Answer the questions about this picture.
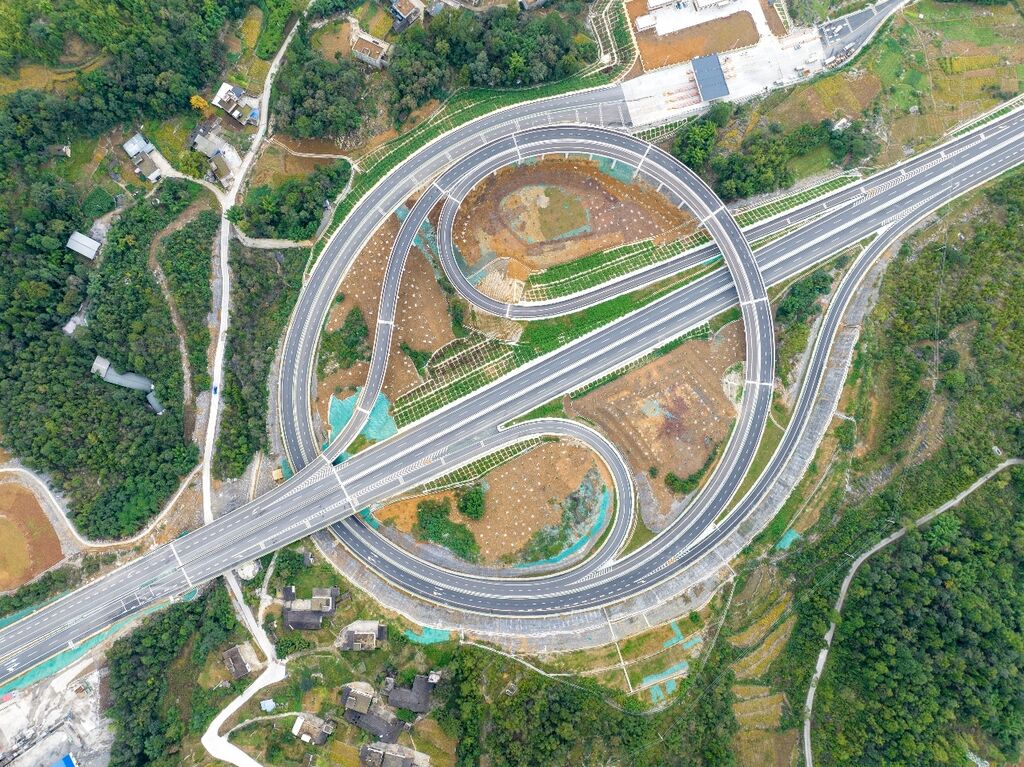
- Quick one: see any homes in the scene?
Yes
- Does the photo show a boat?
No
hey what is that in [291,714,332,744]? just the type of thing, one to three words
house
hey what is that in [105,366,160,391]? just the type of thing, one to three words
building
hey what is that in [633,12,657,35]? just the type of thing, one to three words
building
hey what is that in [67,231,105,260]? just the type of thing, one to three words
shed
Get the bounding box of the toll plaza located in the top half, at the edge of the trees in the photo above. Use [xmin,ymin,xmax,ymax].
[624,26,825,127]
